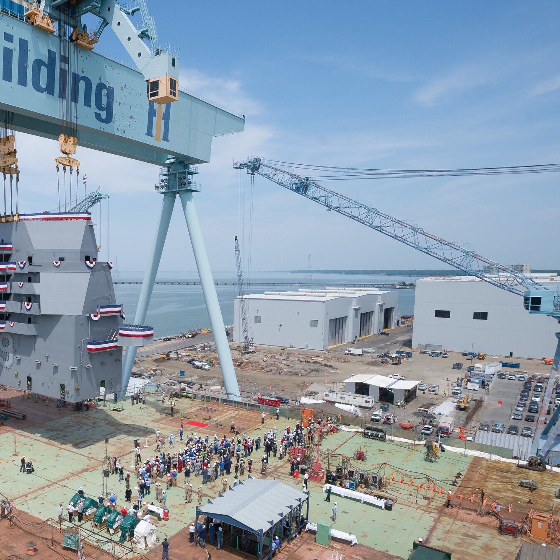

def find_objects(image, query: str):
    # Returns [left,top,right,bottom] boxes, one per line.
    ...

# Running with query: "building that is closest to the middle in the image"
[232,286,397,350]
